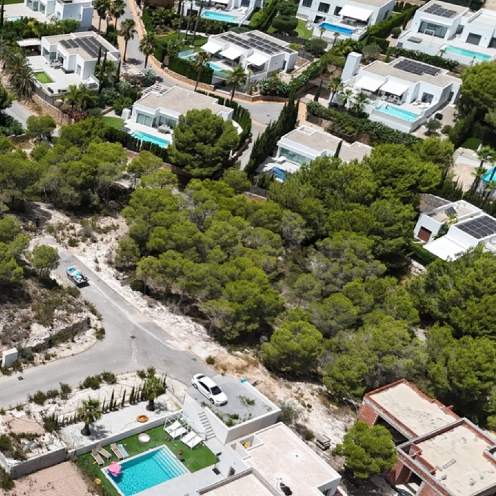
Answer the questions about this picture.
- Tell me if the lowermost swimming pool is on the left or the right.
left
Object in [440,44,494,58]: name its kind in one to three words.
swimming pool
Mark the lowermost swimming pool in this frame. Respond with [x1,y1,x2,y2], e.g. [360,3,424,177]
[102,443,190,496]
